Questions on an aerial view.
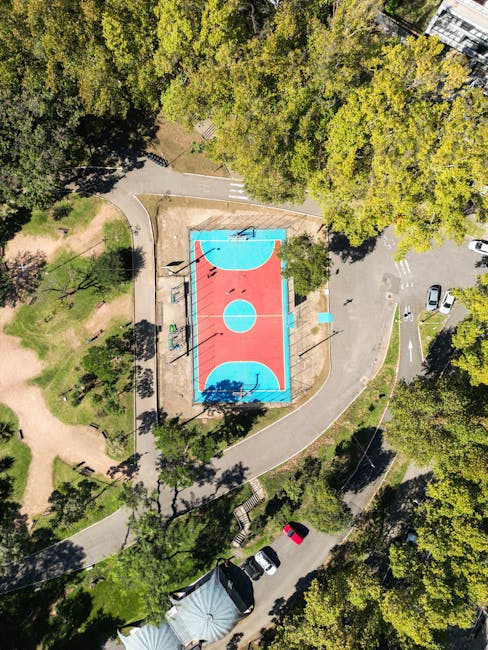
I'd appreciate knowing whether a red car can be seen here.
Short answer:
Yes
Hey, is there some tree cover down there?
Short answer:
Yes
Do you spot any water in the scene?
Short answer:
No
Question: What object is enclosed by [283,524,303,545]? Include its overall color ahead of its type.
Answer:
red car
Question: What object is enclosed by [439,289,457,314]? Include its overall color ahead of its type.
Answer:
white car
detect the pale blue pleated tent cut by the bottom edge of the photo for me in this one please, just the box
[117,607,185,650]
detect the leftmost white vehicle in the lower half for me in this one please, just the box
[256,551,275,574]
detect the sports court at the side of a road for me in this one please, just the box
[191,229,289,402]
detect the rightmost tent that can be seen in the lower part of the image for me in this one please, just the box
[170,548,244,646]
